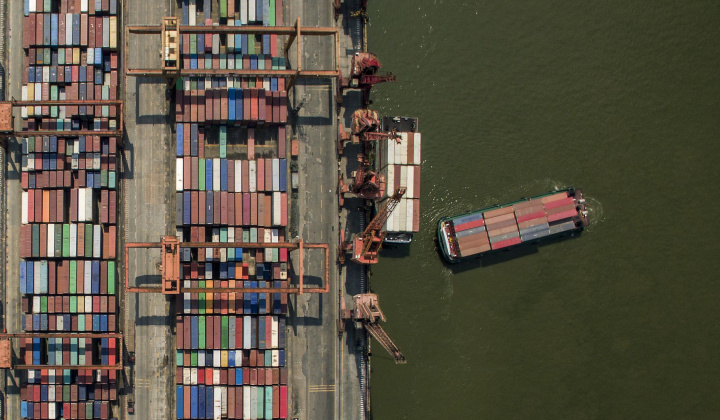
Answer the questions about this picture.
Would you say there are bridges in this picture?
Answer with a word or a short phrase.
No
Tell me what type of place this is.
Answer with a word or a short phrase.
port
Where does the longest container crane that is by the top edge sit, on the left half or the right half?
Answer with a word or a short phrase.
left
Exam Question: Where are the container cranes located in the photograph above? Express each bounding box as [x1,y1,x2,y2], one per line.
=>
[339,293,409,365]
[126,13,339,89]
[0,99,126,145]
[339,44,401,103]
[339,101,407,157]
[339,184,410,276]
[127,233,328,295]
[0,327,126,369]
[339,149,395,213]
